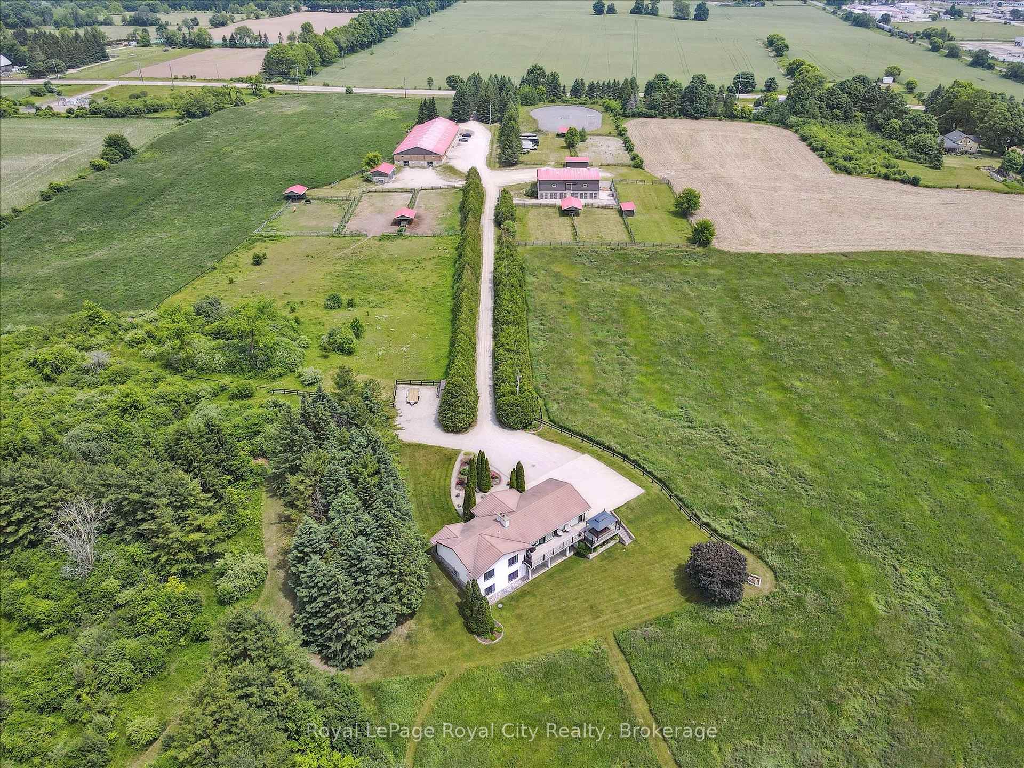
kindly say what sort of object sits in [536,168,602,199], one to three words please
building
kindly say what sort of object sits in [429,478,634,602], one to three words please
house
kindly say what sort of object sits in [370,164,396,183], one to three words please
shed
